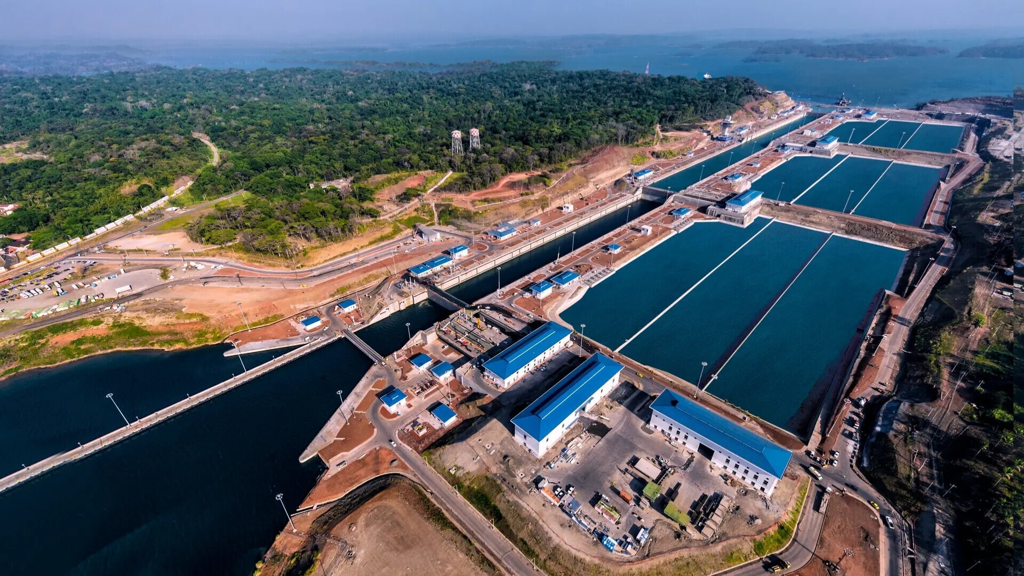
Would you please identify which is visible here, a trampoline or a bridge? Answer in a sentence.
The one in the frame is a bridge.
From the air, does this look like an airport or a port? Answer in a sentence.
This image shows a port.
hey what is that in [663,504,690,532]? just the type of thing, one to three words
building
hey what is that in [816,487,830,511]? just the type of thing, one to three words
vehicle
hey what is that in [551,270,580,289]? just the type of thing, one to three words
building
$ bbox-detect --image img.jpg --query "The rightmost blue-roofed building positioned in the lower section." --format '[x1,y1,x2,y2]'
[649,388,793,489]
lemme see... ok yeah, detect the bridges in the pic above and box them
[340,327,390,364]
